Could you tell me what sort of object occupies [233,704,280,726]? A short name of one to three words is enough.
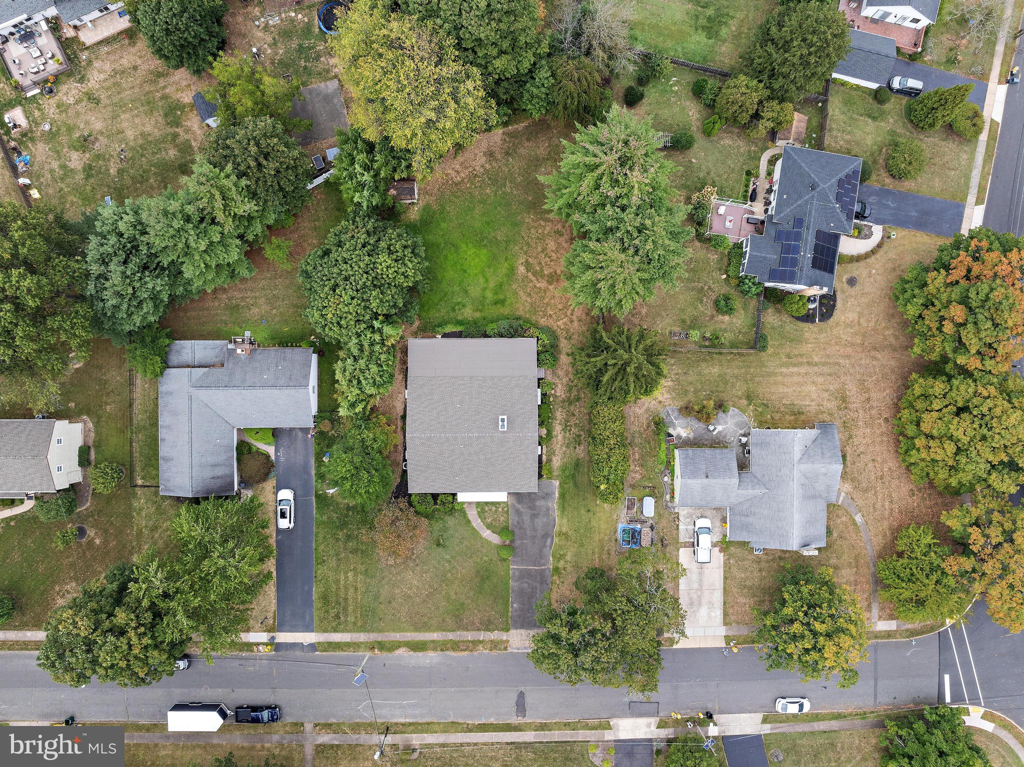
truck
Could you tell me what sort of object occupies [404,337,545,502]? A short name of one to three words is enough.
house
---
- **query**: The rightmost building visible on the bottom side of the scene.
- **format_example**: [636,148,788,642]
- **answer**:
[674,423,842,555]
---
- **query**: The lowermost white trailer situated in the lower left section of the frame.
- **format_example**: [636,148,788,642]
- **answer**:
[167,701,233,732]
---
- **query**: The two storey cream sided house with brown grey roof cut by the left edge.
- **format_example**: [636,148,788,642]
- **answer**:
[0,419,84,501]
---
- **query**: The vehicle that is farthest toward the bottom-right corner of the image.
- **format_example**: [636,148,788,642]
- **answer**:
[776,698,813,718]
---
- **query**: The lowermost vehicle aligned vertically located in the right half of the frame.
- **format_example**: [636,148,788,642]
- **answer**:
[694,517,714,564]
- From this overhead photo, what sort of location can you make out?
residential area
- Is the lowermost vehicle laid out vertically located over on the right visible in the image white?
Yes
